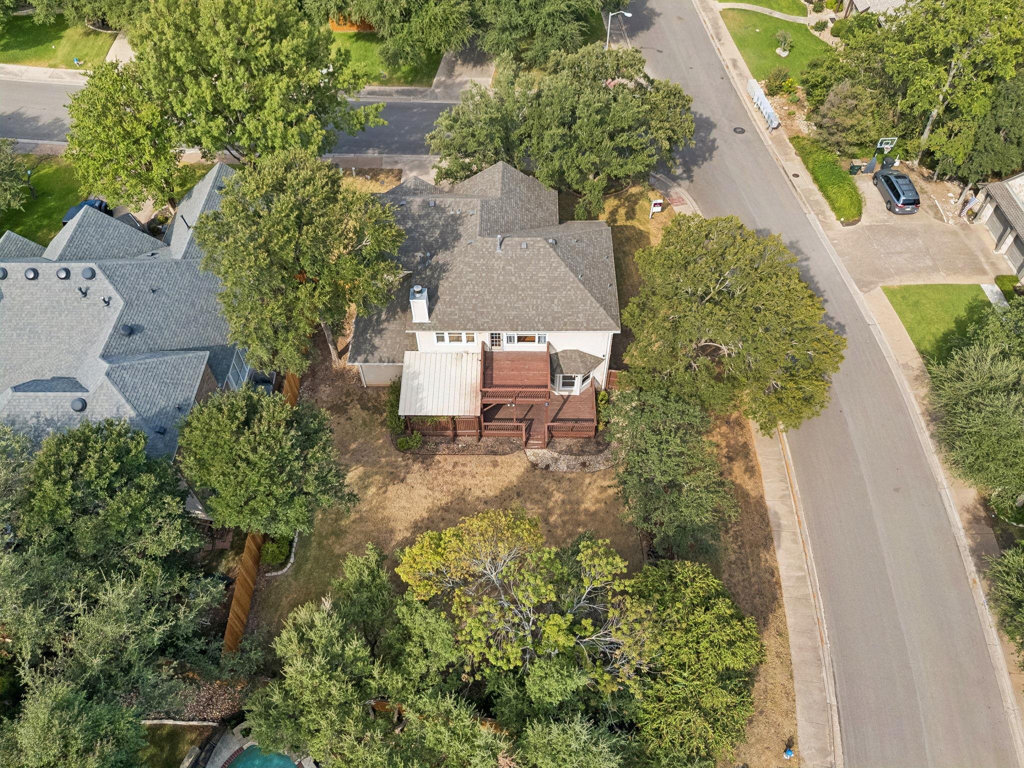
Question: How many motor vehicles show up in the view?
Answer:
2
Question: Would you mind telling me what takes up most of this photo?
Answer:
trees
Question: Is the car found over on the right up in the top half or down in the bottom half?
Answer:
top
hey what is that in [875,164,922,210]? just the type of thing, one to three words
car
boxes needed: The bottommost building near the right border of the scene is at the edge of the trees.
[966,170,1024,275]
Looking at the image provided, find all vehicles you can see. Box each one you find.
[60,193,139,224]
[875,164,922,210]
